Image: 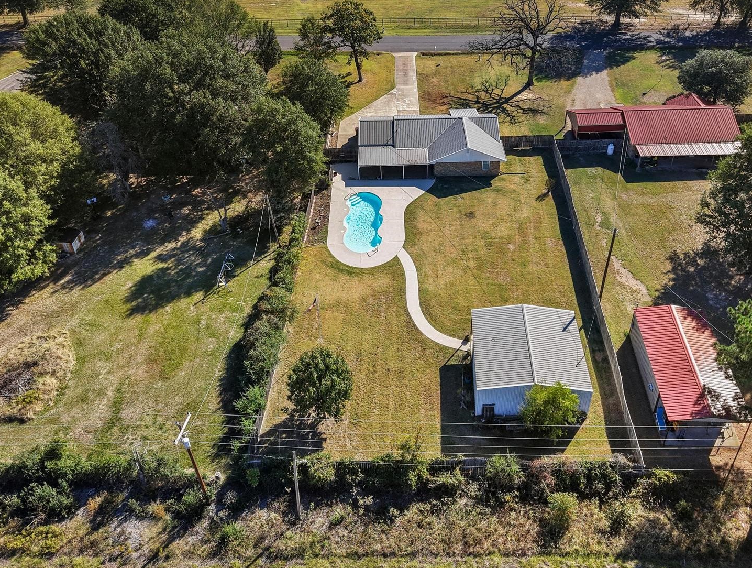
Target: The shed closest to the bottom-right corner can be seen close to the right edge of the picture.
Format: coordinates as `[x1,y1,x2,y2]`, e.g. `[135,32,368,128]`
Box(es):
[628,304,752,447]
